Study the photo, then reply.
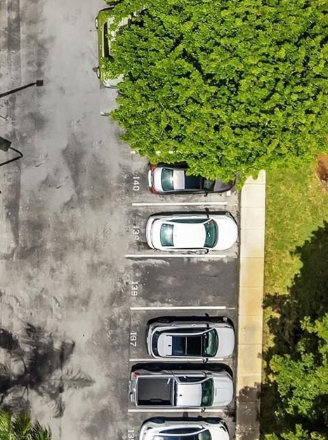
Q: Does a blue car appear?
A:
No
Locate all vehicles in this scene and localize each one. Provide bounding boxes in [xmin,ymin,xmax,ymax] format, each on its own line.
[136,410,233,440]
[143,210,238,256]
[144,159,236,202]
[125,362,236,416]
[143,314,237,365]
